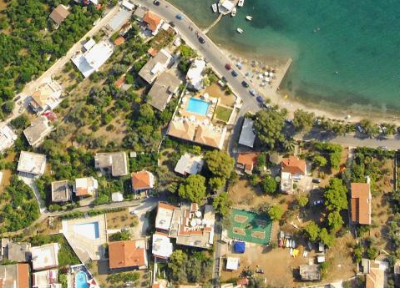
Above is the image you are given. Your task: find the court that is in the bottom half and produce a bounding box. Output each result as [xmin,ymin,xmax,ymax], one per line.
[229,209,272,245]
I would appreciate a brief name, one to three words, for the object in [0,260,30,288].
house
